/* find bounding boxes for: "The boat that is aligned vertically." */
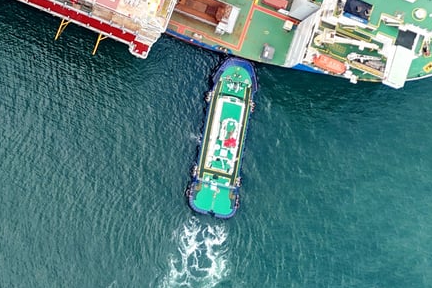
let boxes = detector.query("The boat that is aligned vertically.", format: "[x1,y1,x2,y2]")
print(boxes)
[188,57,261,222]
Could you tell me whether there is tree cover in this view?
No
